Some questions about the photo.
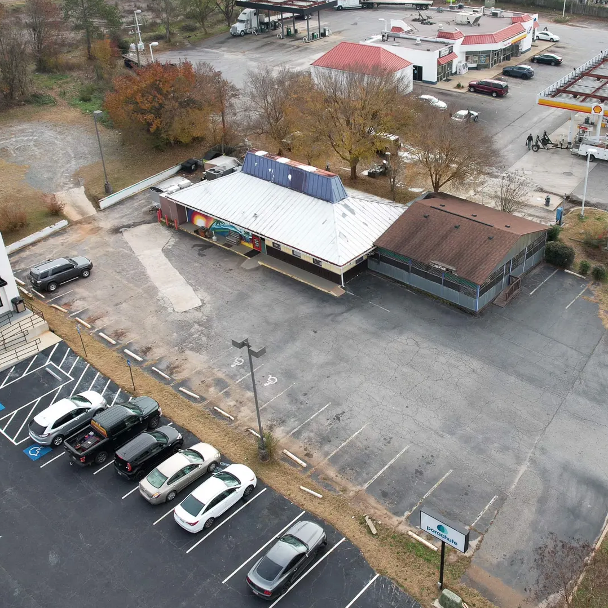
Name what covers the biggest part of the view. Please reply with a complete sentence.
What you mostly see from above here is paved ground.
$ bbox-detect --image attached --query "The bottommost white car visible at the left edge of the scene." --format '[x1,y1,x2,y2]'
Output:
[28,391,115,448]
